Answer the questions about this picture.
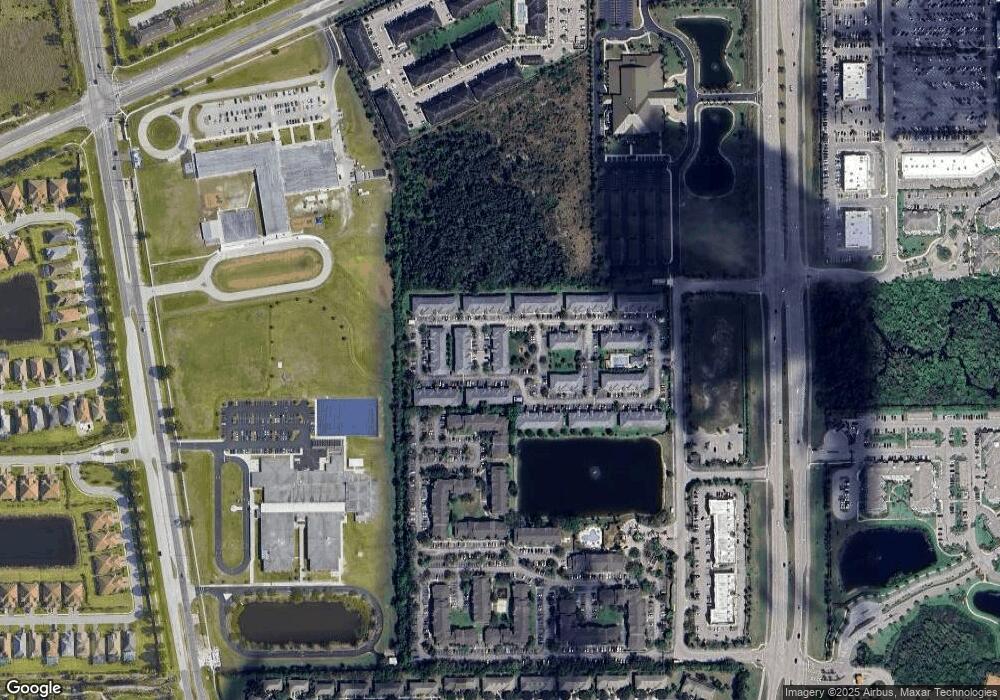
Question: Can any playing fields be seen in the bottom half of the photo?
No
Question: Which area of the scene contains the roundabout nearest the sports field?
top left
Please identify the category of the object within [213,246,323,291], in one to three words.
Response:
sports field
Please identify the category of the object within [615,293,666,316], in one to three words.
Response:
building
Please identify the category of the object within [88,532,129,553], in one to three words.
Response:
house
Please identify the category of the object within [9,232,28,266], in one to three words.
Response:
house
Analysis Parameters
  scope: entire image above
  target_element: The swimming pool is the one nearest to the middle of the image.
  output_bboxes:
[611,354,629,367]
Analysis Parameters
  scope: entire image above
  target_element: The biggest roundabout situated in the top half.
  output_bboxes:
[138,105,187,154]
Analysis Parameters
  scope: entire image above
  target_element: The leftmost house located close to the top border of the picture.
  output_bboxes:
[137,12,190,47]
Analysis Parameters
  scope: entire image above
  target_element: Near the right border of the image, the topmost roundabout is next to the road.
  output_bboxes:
[925,235,961,271]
